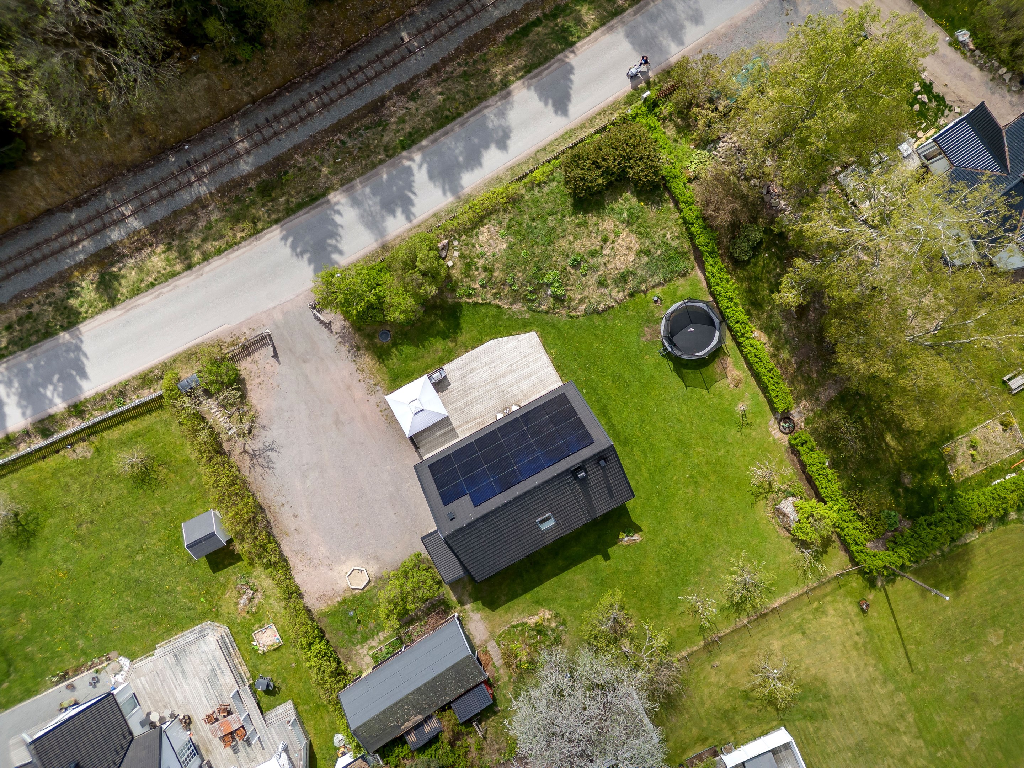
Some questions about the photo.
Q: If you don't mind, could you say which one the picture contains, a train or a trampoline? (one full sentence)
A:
The image shows a trampoline.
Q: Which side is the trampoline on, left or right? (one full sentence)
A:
The trampoline is on the right side of the image.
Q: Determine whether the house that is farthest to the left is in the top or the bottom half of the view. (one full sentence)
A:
The bottom half of the photo is where the house that is farthest to the left is.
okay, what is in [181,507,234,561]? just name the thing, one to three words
shed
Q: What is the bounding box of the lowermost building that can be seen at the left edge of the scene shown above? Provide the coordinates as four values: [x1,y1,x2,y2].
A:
[16,685,201,768]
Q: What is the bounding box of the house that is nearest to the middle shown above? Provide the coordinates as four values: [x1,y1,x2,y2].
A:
[413,379,637,584]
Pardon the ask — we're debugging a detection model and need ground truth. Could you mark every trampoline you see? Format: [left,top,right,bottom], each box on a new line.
[656,295,729,361]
